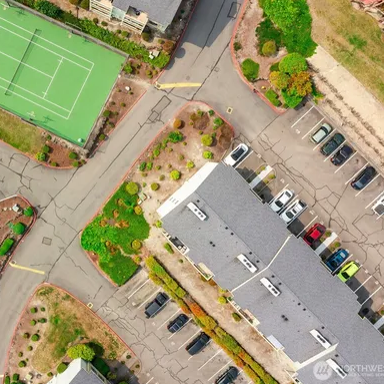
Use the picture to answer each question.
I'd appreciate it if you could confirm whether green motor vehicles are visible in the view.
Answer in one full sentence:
Yes, the frame does contain a green motor vehicle.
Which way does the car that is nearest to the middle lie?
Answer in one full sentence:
The car that is nearest to the middle has been laid out at an angle relative to the frame.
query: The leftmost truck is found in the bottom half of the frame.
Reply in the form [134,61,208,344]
[142,290,171,318]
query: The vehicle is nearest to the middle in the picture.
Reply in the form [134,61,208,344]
[223,142,250,168]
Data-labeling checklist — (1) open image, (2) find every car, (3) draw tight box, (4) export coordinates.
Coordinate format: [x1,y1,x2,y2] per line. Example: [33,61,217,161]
[319,132,346,156]
[336,259,361,281]
[301,221,327,245]
[324,245,350,270]
[280,198,307,223]
[329,144,355,168]
[309,122,332,144]
[268,188,294,213]
[185,330,211,355]
[165,311,189,334]
[213,363,239,384]
[349,165,376,189]
[223,142,250,168]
